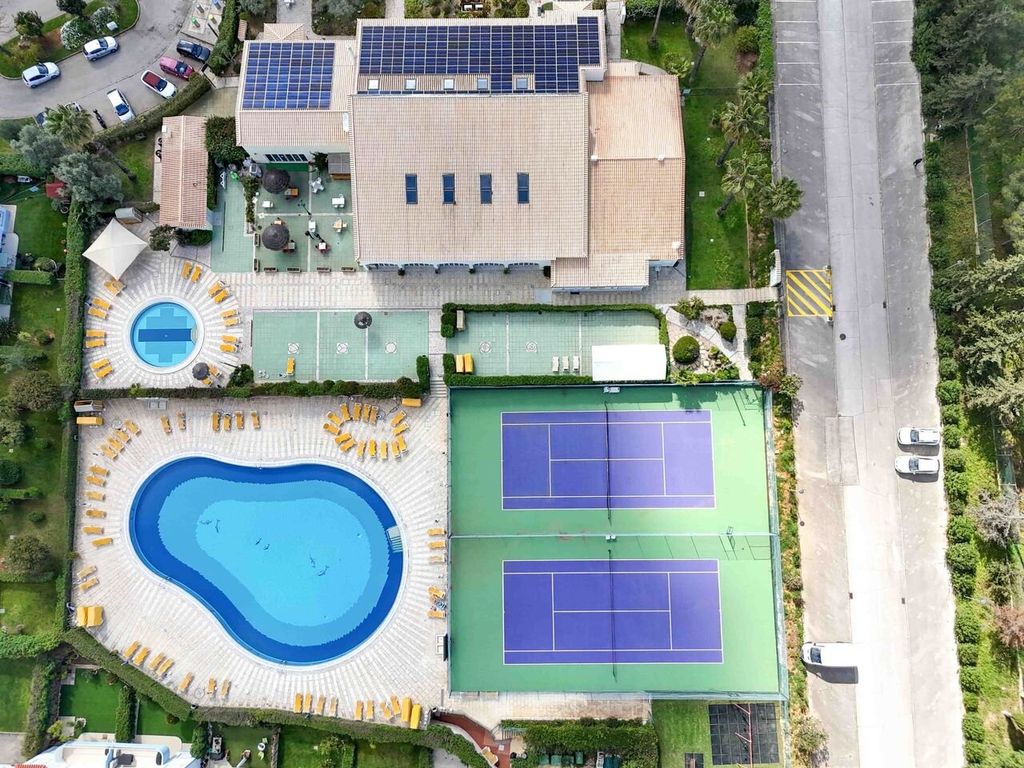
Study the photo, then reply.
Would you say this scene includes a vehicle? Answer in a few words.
Yes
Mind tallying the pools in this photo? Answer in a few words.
2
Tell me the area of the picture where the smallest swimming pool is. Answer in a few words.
left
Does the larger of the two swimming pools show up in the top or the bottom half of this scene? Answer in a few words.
bottom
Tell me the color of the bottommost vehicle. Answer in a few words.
white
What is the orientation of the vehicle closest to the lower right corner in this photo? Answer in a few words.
from left to right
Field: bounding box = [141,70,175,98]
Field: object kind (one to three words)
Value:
car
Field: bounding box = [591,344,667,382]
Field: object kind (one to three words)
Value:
tent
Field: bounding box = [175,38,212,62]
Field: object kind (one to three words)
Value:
car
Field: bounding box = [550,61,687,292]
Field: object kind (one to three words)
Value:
building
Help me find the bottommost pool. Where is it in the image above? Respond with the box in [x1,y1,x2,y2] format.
[125,452,409,671]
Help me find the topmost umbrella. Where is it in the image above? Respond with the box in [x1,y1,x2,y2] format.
[263,169,290,195]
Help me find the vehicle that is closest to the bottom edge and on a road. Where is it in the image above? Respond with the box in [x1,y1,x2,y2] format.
[800,643,864,669]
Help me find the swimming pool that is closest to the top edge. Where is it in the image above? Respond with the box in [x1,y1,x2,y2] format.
[125,295,207,376]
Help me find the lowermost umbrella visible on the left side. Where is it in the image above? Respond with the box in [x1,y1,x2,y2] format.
[194,363,213,380]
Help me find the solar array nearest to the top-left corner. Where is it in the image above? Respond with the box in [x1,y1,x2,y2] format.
[242,42,335,108]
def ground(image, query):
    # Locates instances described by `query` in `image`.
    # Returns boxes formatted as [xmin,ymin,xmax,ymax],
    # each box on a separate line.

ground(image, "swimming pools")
[125,295,207,376]
[125,452,409,671]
